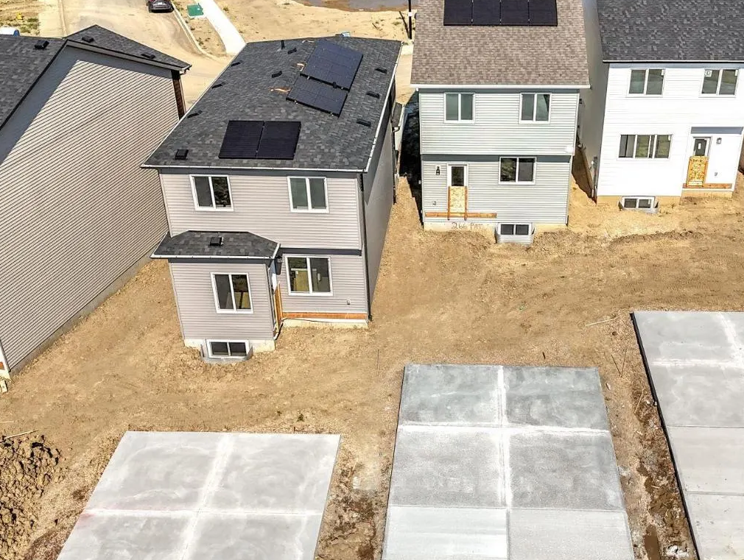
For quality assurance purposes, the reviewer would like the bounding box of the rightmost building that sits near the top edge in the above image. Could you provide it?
[578,0,744,210]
